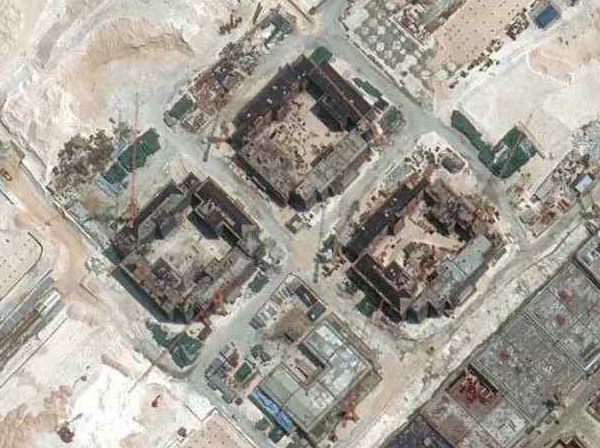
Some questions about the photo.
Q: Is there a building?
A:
Yes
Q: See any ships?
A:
No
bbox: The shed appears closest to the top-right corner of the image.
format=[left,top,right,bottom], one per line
[534,5,560,28]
